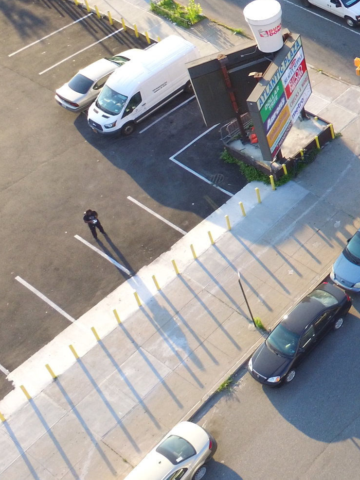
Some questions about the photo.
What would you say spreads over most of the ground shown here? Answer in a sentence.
The largest share of the image is taken up by paved ground.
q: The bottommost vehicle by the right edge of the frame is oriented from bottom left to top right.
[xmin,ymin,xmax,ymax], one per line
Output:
[240,282,349,393]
